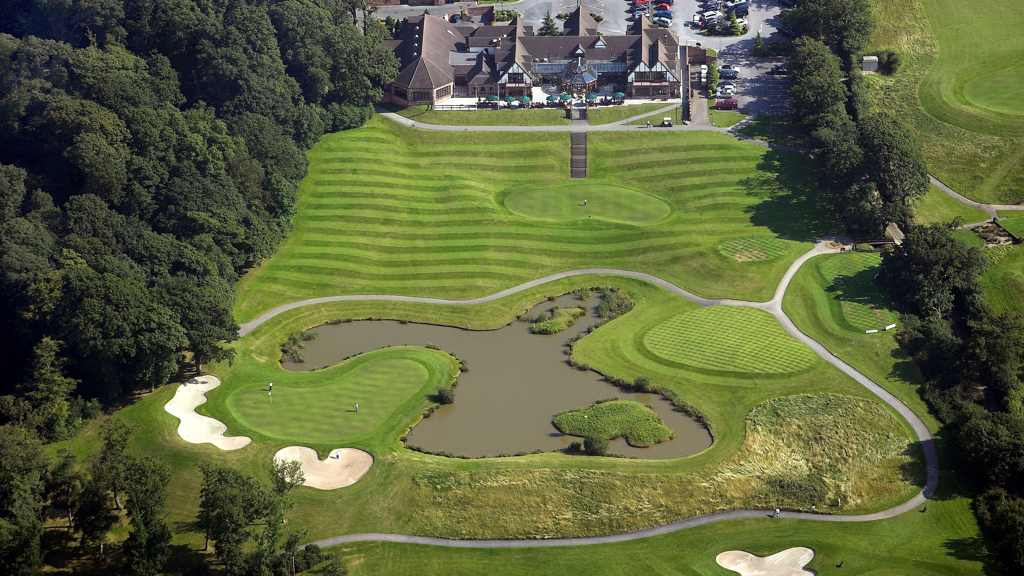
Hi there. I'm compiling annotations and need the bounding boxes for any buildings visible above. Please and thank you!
[370,0,477,6]
[382,5,684,103]
[862,55,877,69]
